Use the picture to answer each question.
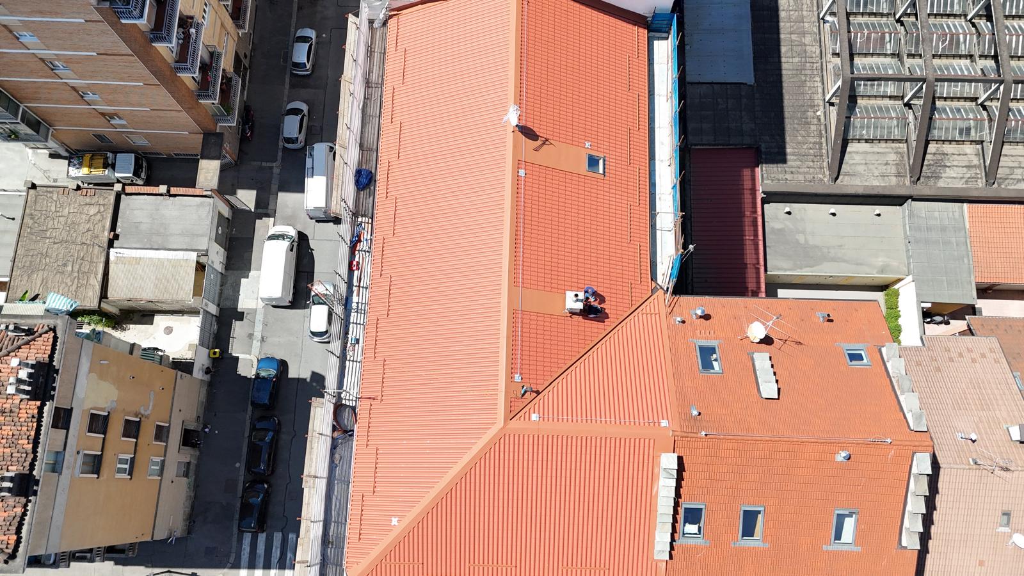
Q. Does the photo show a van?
Yes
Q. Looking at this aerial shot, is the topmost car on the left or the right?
left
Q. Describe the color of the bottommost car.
black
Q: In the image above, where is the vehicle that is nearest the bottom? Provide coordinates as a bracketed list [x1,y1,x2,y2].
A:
[237,481,274,532]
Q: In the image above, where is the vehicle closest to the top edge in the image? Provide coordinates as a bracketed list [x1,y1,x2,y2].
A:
[289,27,321,77]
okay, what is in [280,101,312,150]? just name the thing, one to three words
car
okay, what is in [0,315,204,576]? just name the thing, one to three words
house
